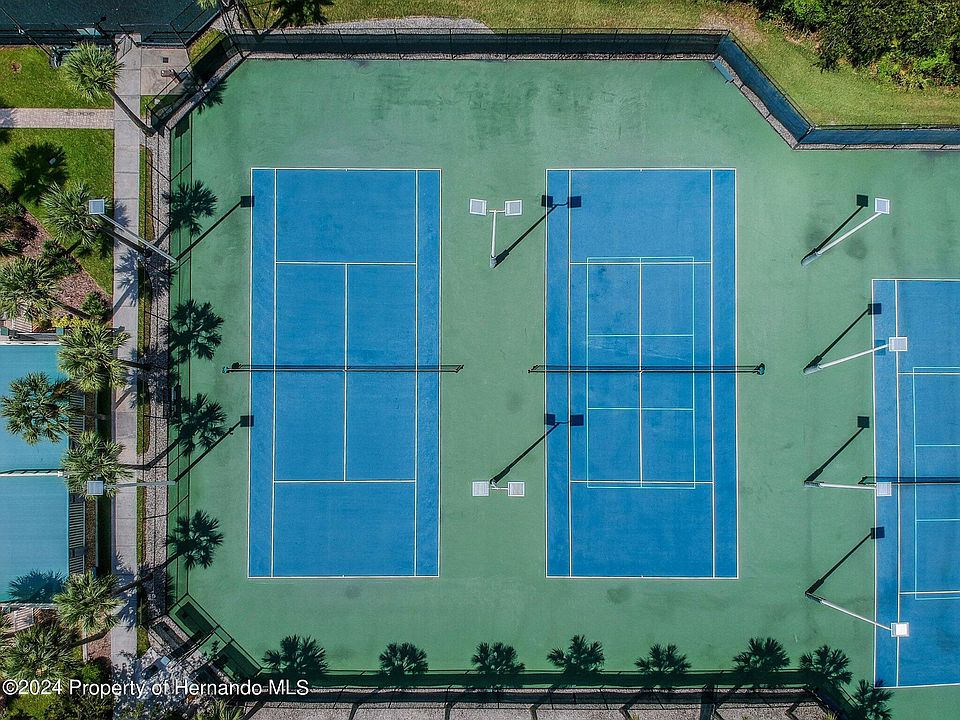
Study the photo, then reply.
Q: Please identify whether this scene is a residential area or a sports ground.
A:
sports ground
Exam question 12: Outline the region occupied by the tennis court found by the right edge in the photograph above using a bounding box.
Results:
[873,278,960,688]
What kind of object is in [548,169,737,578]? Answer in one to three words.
tennis court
